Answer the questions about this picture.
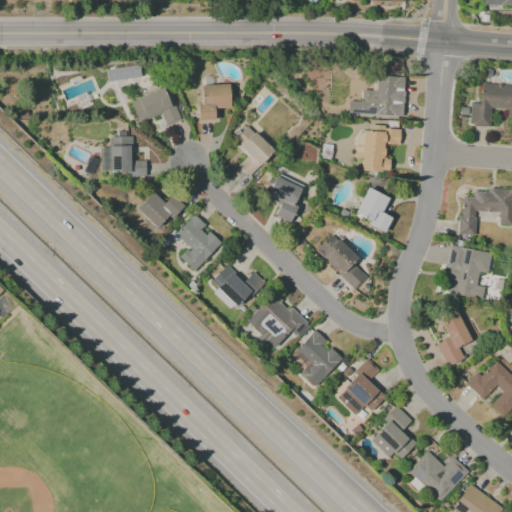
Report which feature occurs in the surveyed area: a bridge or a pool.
pool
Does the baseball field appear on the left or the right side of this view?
left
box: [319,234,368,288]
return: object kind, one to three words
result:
house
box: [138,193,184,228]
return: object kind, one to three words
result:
house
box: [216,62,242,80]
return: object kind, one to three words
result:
swimming pool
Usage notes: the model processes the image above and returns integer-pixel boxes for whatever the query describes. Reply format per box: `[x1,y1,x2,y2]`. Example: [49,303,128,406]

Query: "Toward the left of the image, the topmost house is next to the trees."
[108,64,142,80]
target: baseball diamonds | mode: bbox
[0,304,234,512]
